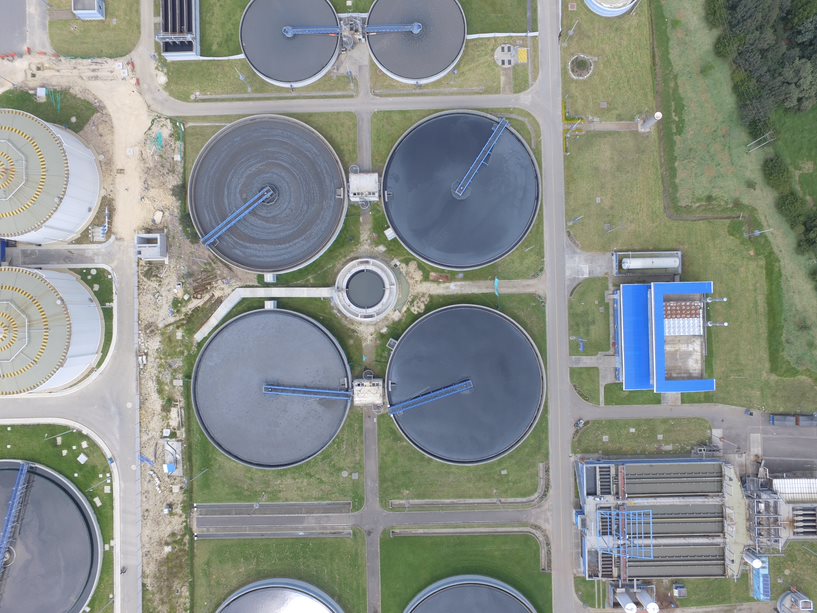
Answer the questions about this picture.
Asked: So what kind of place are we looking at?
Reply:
industrial area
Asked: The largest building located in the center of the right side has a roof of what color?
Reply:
blue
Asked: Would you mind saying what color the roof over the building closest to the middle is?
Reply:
white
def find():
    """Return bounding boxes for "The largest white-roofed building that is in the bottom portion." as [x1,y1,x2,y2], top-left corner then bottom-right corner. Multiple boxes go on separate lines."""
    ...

[353,371,383,413]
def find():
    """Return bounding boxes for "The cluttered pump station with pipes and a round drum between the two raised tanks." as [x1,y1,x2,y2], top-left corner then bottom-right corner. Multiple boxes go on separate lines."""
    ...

[340,15,369,54]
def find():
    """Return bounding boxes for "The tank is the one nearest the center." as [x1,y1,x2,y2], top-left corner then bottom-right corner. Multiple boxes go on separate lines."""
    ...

[335,259,397,320]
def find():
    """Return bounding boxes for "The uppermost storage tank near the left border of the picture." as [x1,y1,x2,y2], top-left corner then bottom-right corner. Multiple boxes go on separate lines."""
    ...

[0,107,104,246]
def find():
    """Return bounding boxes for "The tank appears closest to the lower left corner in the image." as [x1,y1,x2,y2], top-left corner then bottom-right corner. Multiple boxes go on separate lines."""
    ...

[0,460,105,613]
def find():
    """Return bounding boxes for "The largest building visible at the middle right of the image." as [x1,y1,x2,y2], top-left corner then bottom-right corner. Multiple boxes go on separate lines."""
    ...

[609,281,716,393]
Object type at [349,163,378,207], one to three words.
building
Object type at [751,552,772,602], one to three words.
building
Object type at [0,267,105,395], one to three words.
storage tank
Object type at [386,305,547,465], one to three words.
storage tank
